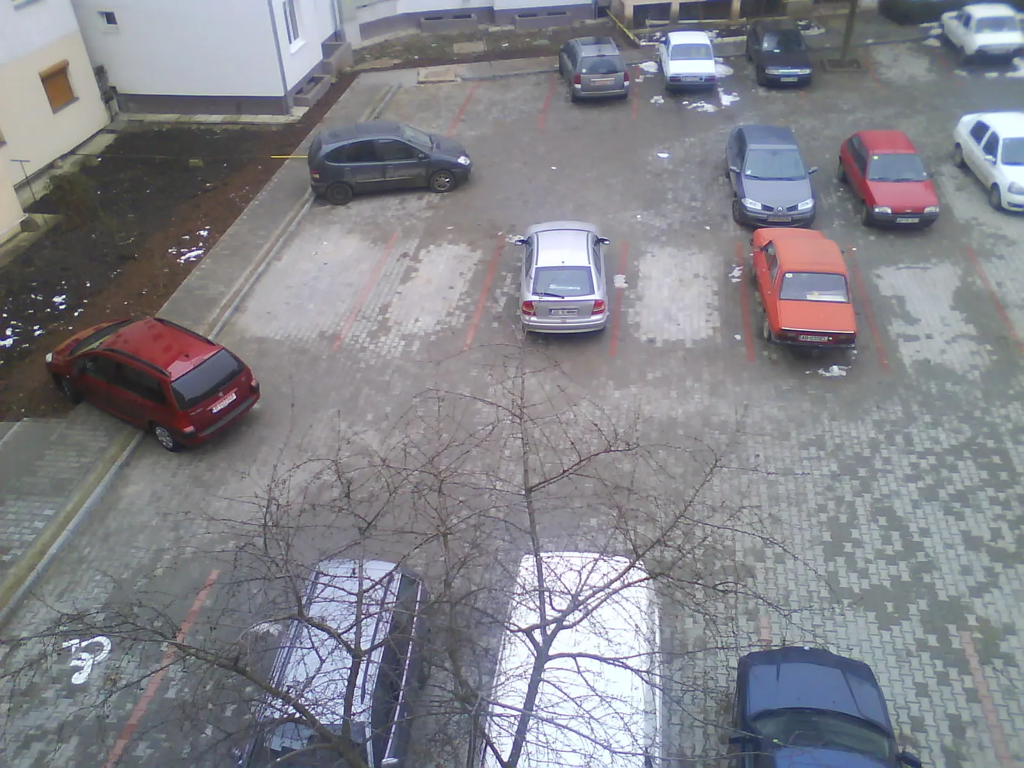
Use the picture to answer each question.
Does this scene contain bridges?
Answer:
No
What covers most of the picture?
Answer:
paved ground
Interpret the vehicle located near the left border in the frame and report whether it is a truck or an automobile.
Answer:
automobile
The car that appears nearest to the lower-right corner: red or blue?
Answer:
blue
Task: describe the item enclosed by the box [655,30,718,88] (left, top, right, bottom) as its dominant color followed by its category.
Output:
white car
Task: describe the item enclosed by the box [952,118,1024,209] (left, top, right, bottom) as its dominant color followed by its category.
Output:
white car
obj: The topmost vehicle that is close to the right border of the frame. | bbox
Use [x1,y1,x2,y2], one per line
[936,5,1024,60]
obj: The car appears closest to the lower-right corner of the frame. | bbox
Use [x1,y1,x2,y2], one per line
[727,650,922,768]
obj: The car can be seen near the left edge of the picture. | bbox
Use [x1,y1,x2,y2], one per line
[49,318,263,455]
